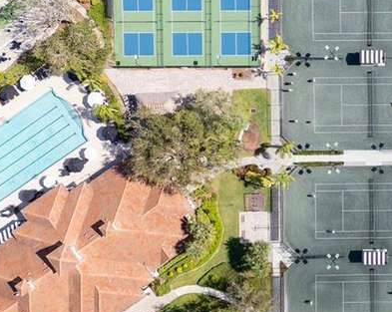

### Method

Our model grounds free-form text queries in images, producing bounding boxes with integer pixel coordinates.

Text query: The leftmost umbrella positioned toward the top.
[1,87,18,102]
